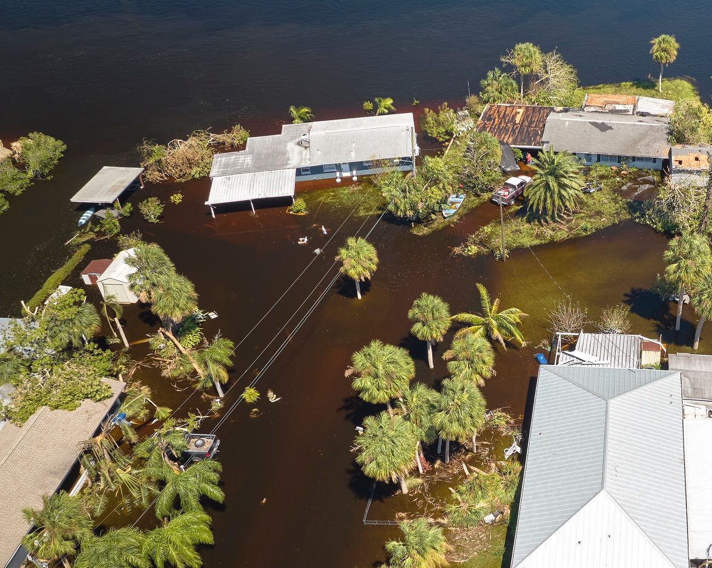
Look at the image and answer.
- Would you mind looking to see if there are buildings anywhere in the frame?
Yes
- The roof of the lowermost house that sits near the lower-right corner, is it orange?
No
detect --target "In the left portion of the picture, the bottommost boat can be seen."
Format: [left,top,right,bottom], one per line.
[77,207,95,226]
